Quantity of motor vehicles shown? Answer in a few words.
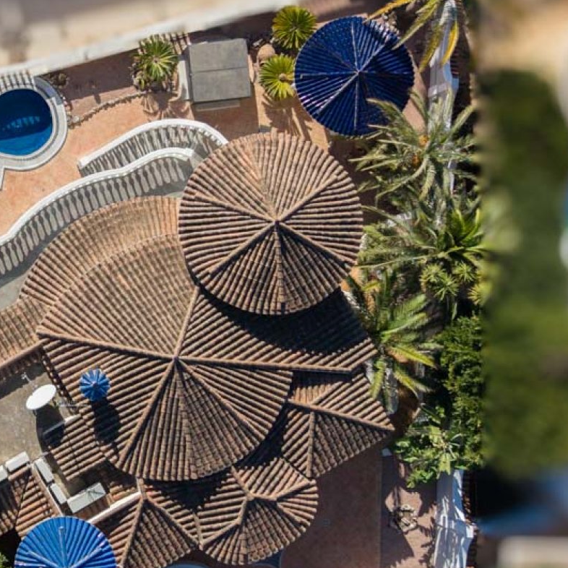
none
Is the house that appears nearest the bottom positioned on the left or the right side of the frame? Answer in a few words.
left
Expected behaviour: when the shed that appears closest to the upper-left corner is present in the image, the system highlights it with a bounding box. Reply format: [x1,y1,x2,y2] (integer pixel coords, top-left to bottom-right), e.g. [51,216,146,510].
[177,38,252,114]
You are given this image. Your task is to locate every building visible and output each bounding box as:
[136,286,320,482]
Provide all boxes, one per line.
[177,38,252,114]
[0,130,397,568]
